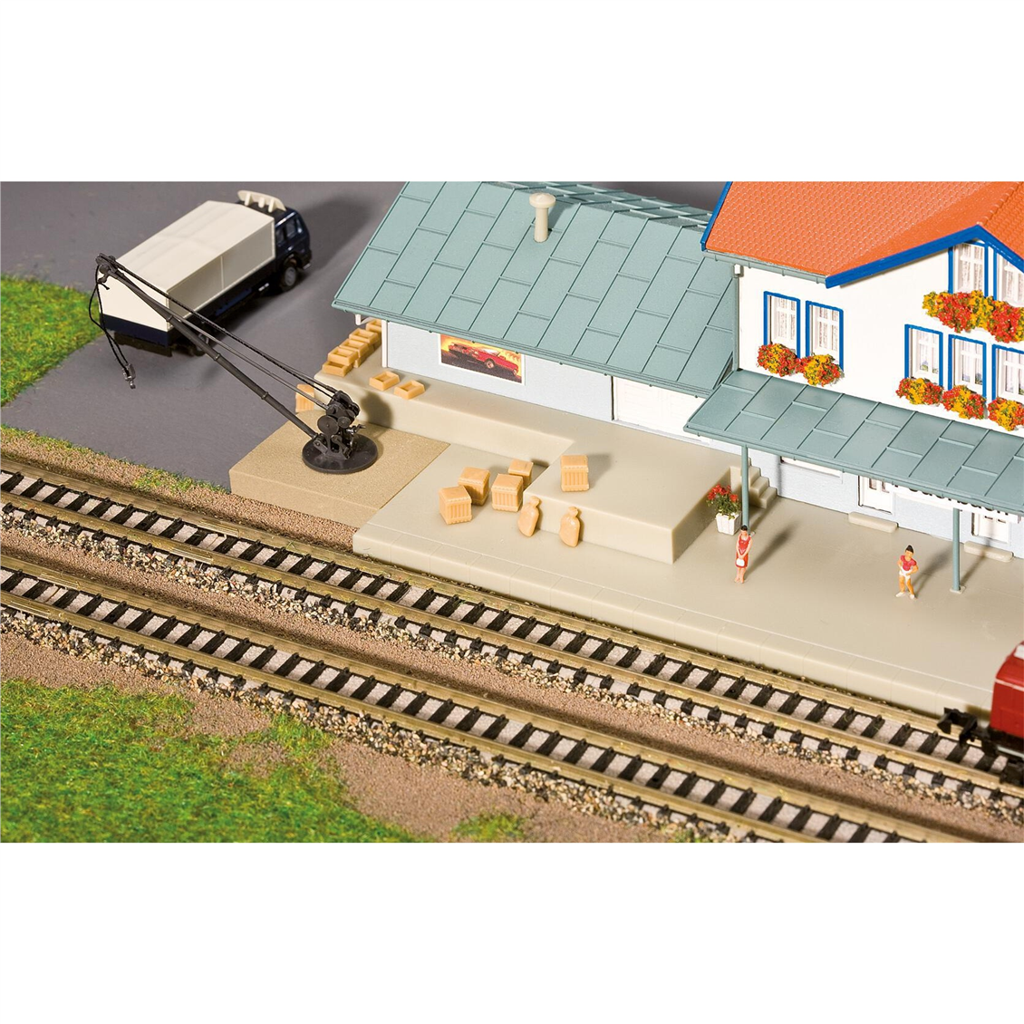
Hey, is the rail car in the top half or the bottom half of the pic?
bottom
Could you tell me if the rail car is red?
Yes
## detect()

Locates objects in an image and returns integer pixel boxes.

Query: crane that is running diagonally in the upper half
[85,249,378,473]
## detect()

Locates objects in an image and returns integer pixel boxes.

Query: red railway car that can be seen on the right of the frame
[933,632,1024,782]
